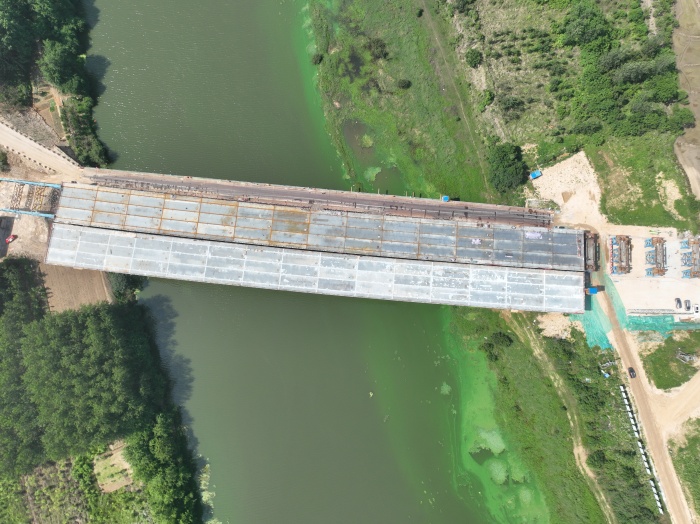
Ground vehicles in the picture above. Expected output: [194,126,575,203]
[693,303,700,314]
[684,299,691,311]
[4,234,17,243]
[674,297,682,309]
[628,367,636,378]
